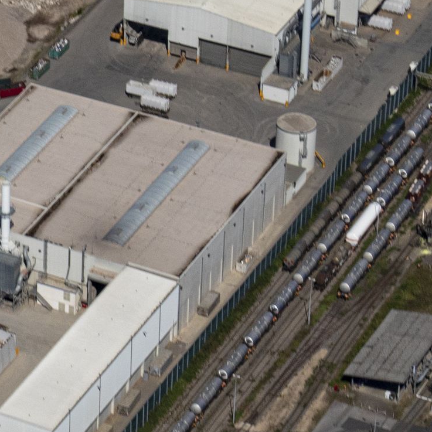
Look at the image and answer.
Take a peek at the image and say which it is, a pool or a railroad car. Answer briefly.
railroad car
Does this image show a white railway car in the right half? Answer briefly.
Yes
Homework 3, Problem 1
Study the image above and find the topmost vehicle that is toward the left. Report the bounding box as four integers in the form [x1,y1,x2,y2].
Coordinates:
[104,21,132,46]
